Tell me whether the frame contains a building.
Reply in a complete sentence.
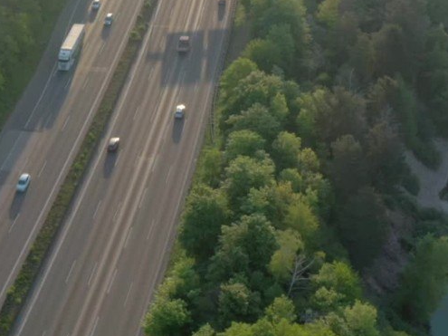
No, the frame has no building in it.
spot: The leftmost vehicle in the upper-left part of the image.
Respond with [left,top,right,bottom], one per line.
[58,25,85,71]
